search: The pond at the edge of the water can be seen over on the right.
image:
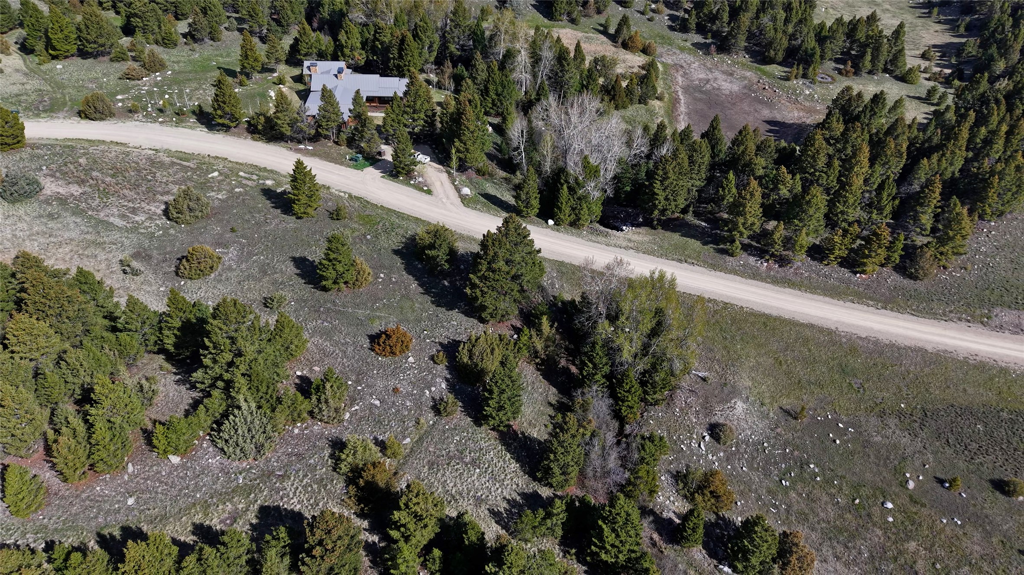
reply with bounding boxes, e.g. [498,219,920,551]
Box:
[654,45,822,146]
